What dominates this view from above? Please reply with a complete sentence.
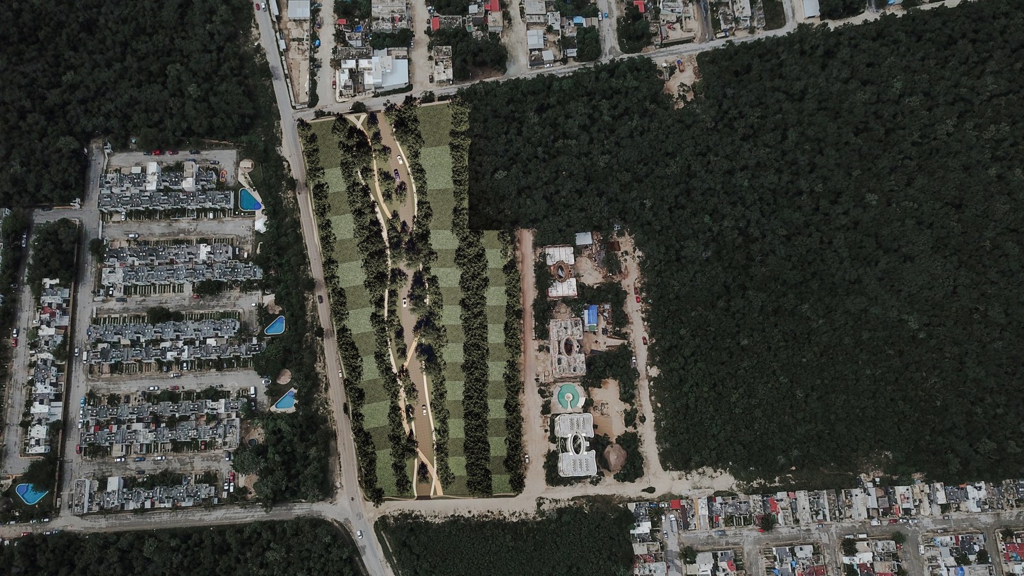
Most of the picture is covered by trees.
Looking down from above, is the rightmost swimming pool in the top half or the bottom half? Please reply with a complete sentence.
Seen from above, the rightmost swimming pool lies in the bottom half of the view.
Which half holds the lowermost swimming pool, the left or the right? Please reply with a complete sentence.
You can find the lowermost swimming pool on the left side of the picture.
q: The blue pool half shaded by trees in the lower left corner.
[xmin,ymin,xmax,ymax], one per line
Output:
[16,484,49,505]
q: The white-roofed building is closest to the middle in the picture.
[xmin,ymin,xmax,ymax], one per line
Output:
[545,246,577,301]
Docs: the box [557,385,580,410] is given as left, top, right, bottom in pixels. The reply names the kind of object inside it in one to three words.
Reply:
swimming pool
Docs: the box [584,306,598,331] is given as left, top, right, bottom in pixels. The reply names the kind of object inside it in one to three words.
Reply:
shed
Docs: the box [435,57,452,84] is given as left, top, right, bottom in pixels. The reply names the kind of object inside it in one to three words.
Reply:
house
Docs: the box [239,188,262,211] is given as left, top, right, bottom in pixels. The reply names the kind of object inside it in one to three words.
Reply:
swimming pool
